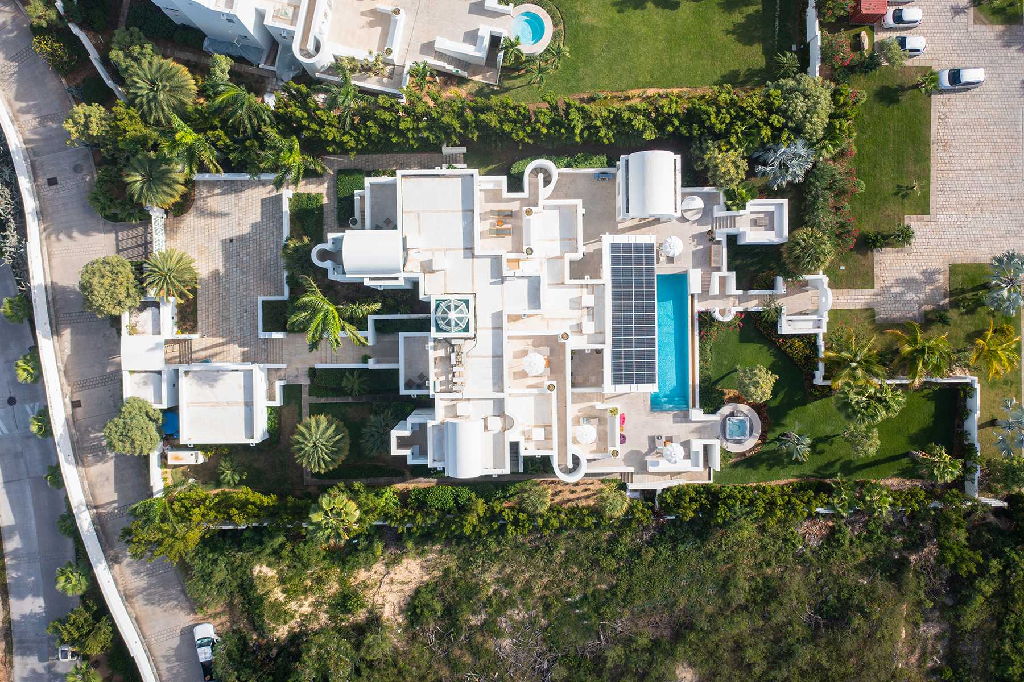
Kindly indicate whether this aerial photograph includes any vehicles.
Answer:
Yes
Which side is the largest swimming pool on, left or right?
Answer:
right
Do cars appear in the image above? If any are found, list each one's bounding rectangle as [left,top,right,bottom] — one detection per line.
[881,35,924,59]
[886,0,921,7]
[877,6,922,31]
[933,67,984,92]
[192,623,223,682]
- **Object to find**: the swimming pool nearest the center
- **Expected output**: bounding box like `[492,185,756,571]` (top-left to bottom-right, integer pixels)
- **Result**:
[650,269,701,410]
